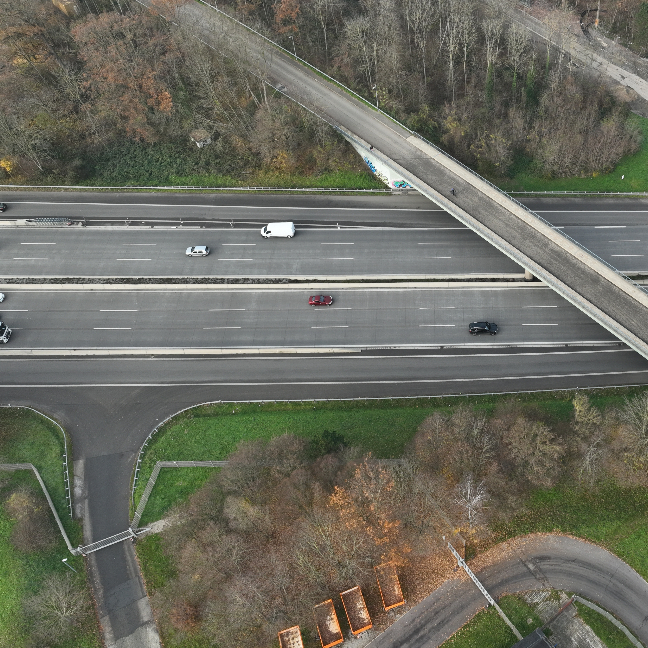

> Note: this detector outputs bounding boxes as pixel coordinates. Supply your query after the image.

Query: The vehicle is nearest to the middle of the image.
[306,295,333,308]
